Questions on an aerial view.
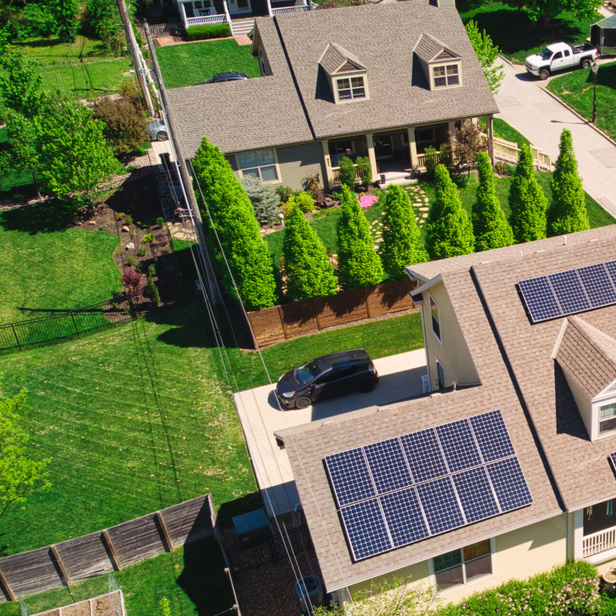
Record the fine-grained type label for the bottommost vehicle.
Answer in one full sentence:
Looking closely, the bottommost vehicle is an automobile.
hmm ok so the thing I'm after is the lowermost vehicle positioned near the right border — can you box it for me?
[519,43,596,78]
